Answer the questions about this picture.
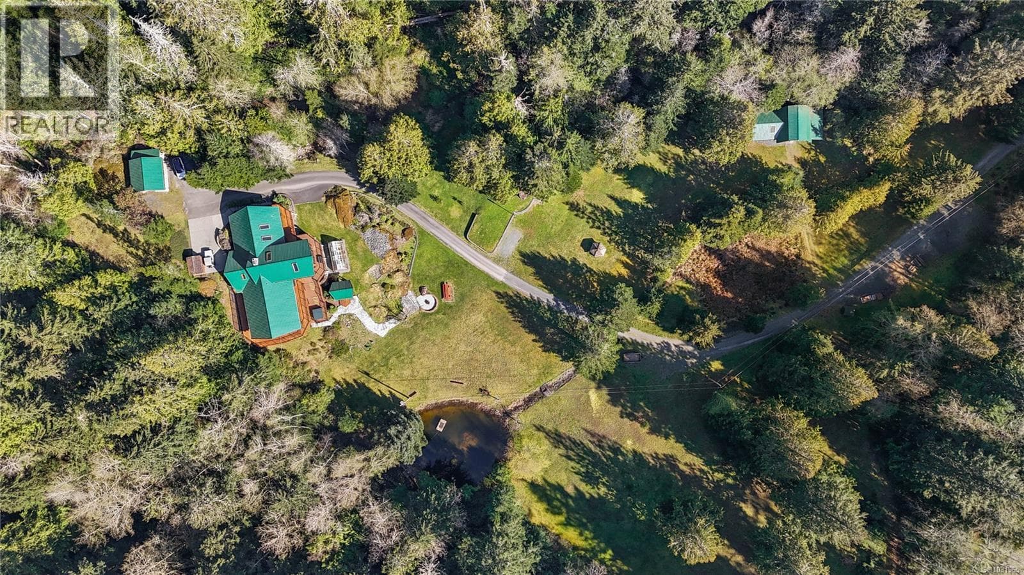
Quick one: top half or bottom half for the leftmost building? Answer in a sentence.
The leftmost building is in the top half of the image.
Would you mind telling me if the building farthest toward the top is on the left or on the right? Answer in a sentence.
You can find the building farthest toward the top on the right side of the picture.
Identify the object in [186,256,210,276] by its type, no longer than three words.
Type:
shed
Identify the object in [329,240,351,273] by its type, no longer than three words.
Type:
greenhouse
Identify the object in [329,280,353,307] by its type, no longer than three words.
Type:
shed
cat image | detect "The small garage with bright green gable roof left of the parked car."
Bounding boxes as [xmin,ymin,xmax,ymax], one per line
[129,148,170,191]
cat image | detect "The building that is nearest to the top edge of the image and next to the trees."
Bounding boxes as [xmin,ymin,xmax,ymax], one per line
[749,105,823,143]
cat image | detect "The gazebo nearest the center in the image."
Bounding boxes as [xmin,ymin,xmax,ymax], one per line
[590,241,608,258]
